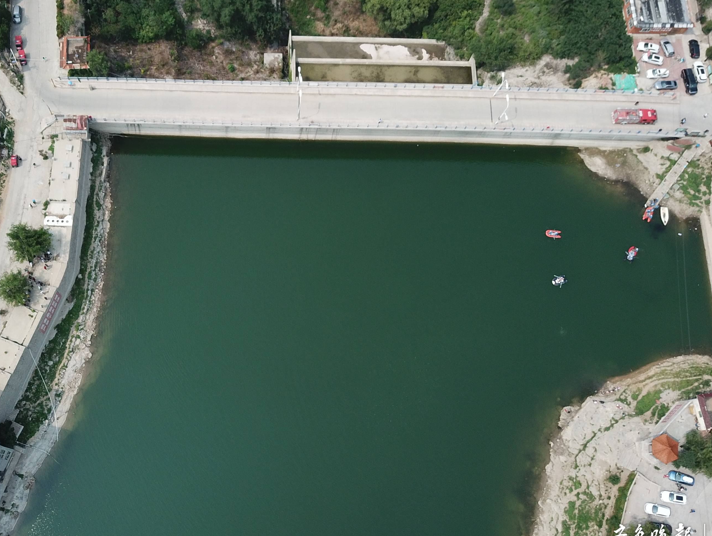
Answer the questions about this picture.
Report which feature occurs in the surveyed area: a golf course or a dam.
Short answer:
dam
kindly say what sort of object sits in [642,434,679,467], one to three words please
building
